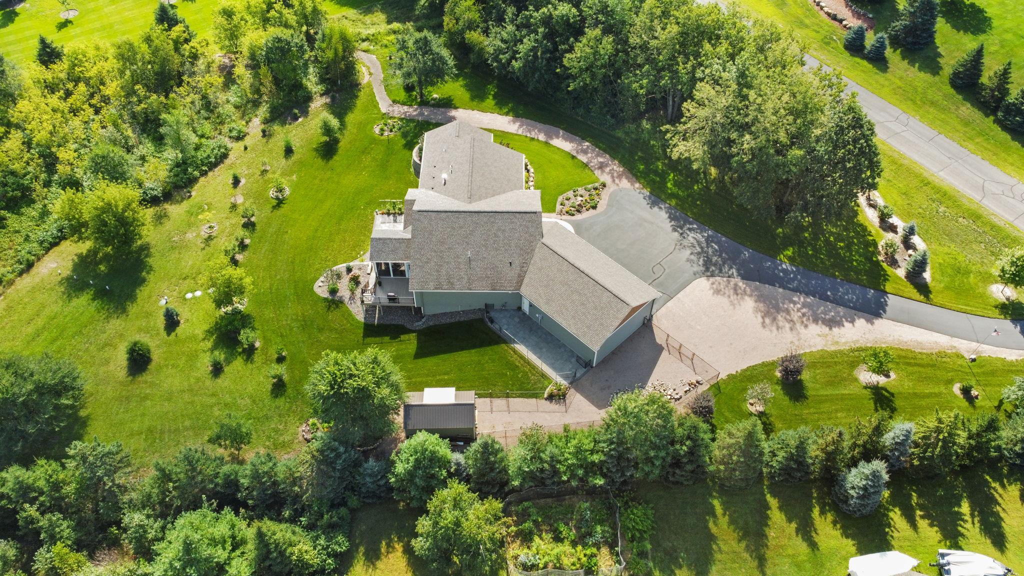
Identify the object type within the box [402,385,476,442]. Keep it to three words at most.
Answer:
shed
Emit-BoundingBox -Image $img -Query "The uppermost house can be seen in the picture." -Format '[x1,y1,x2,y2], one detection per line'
[359,119,661,367]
